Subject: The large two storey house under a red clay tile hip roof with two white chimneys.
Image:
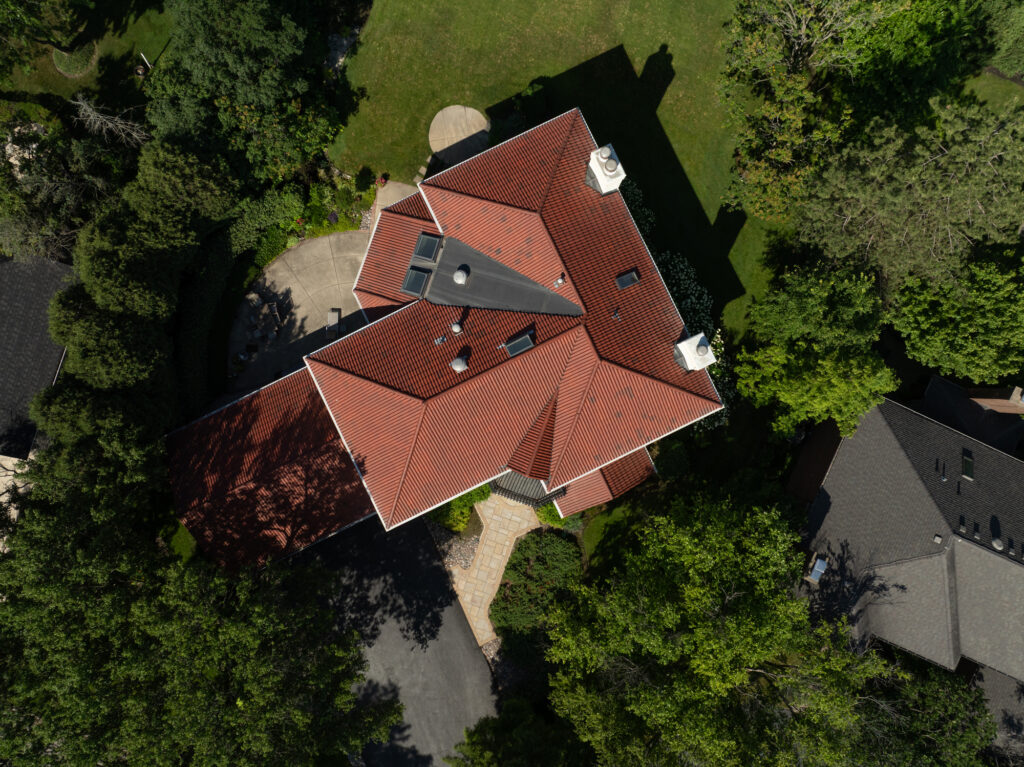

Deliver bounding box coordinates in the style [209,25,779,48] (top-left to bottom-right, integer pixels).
[150,107,726,591]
